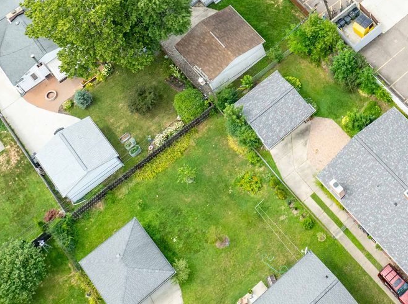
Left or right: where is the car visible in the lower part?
right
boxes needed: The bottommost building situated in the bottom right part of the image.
[259,250,364,304]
